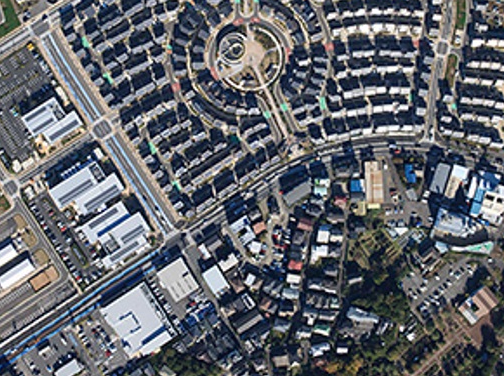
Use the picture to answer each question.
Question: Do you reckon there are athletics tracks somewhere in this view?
No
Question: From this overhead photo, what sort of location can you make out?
residential area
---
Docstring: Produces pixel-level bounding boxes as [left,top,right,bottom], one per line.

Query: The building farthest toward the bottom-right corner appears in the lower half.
[458,283,500,326]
